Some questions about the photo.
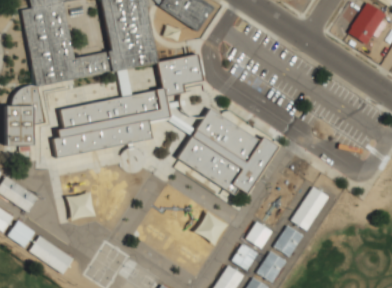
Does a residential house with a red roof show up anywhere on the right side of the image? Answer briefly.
Yes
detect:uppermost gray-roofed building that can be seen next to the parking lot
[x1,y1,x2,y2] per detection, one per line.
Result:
[162,0,214,30]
